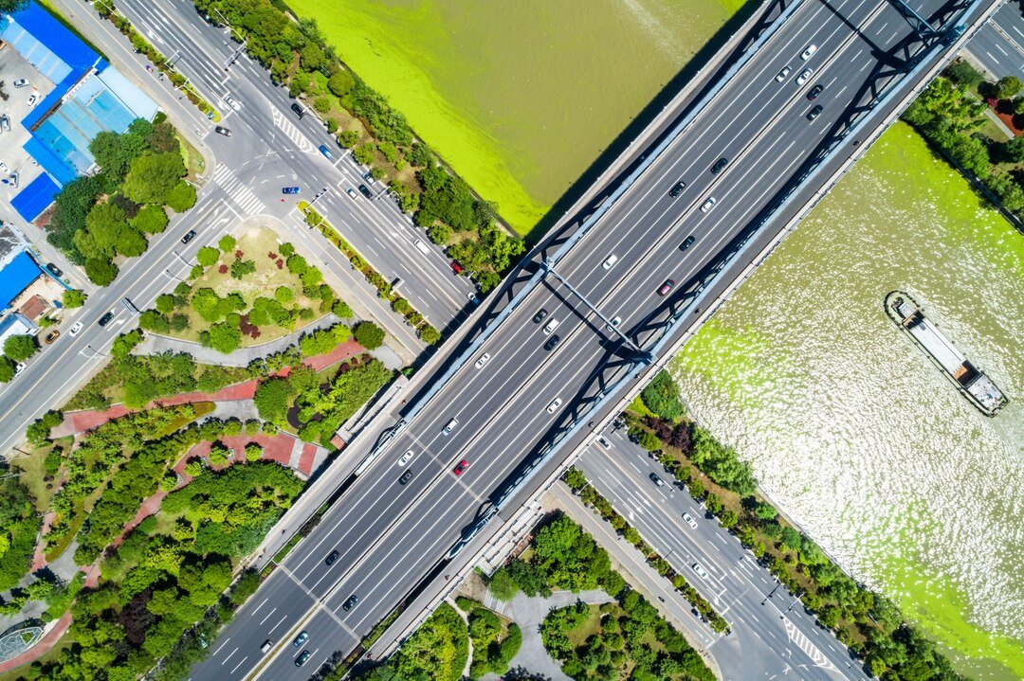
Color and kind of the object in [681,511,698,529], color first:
white car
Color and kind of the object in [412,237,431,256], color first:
white vehicle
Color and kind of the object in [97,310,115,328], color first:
black car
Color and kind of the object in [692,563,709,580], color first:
white car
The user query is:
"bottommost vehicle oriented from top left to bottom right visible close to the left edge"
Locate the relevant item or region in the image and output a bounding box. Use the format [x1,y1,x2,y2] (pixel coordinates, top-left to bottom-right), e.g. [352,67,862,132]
[46,261,64,279]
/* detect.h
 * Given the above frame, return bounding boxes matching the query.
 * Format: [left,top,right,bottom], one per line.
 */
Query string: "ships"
[880,290,1010,417]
